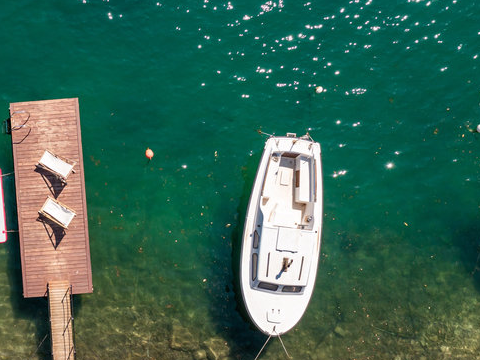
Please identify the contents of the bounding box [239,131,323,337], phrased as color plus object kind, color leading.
white boat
